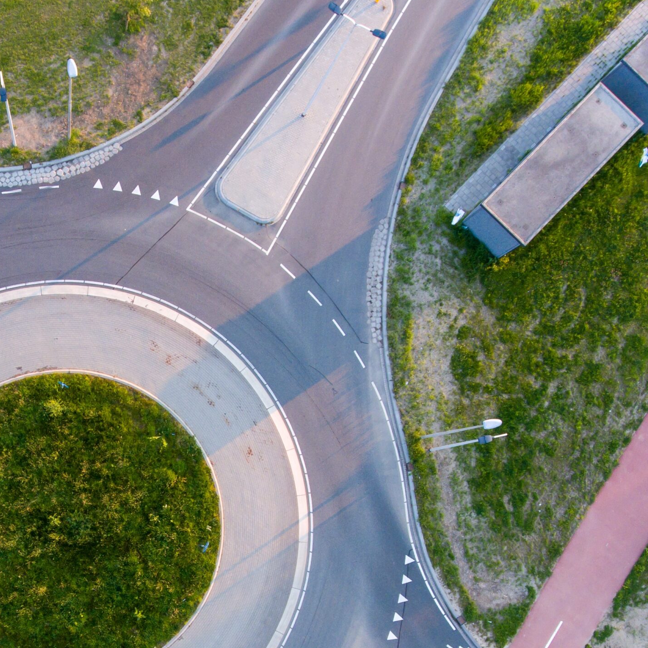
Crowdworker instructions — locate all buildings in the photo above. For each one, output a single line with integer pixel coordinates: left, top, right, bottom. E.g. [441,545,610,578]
[464,82,643,258]
[604,33,648,115]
